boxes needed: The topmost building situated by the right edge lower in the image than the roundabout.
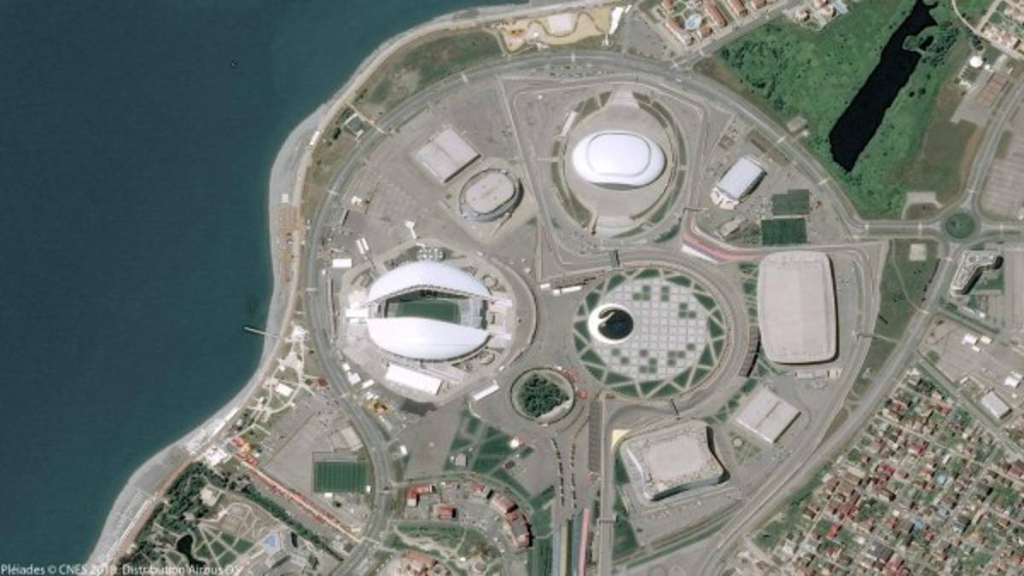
[950,250,999,297]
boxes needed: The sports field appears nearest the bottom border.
[313,462,369,494]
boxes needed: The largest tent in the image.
[386,365,443,396]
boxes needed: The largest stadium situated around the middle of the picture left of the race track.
[346,261,512,362]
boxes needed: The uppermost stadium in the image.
[574,130,665,188]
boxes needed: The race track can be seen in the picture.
[499,69,873,576]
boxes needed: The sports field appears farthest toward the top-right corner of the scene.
[773,189,809,215]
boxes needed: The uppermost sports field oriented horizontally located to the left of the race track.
[395,299,461,324]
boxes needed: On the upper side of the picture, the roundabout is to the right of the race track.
[936,204,983,247]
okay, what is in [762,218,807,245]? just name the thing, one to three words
sports field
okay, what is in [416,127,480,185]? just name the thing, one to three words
building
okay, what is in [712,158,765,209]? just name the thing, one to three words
building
